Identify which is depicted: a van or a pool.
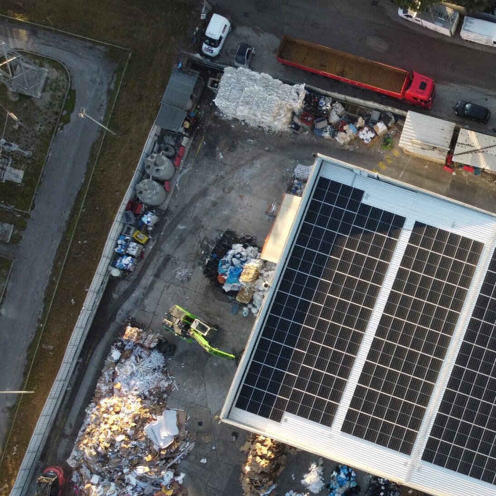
van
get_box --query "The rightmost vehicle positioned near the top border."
[460,15,496,50]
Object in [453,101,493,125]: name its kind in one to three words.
car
